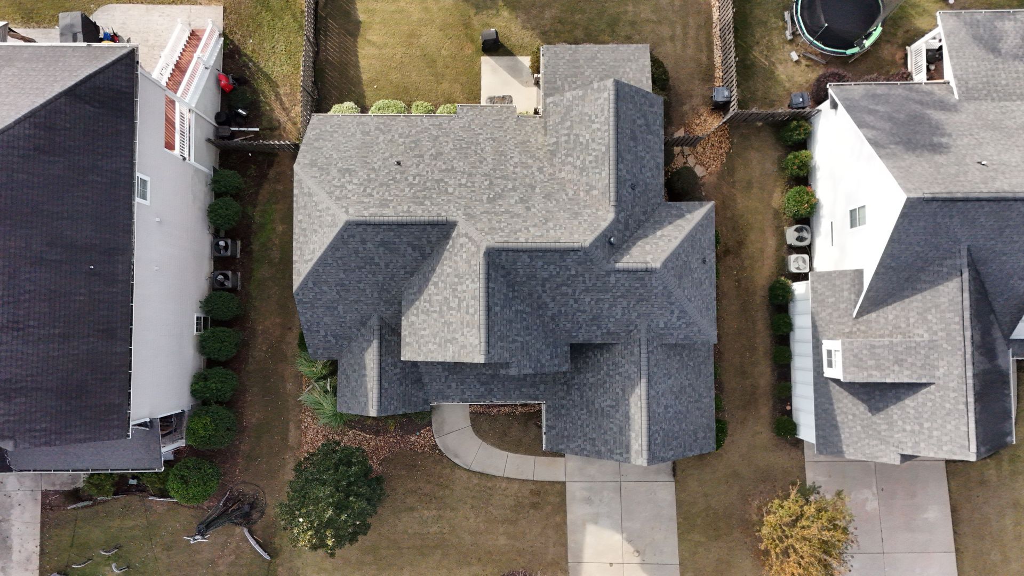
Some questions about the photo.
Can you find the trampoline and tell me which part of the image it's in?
top right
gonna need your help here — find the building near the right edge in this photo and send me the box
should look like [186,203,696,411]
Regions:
[791,11,1024,465]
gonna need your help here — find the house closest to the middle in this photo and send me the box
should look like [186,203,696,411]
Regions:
[291,45,716,464]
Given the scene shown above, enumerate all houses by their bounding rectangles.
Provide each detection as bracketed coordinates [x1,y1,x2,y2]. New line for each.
[291,45,716,464]
[0,44,220,475]
[791,11,1024,465]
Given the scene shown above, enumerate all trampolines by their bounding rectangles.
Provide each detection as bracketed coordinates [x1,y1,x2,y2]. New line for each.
[790,0,907,64]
